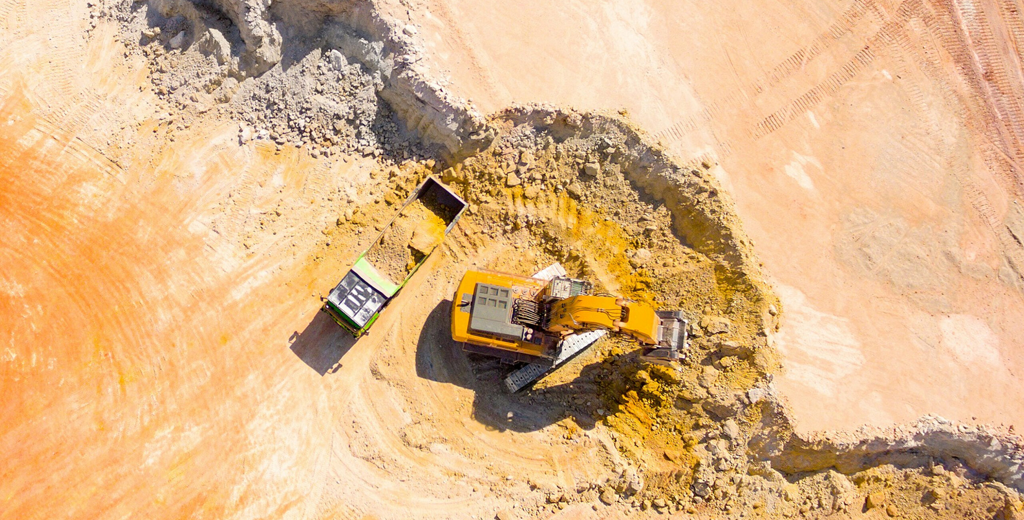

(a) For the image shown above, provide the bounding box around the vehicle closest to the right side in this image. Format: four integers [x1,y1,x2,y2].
[451,255,691,391]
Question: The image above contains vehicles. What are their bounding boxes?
[319,176,468,341]
[451,255,691,391]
